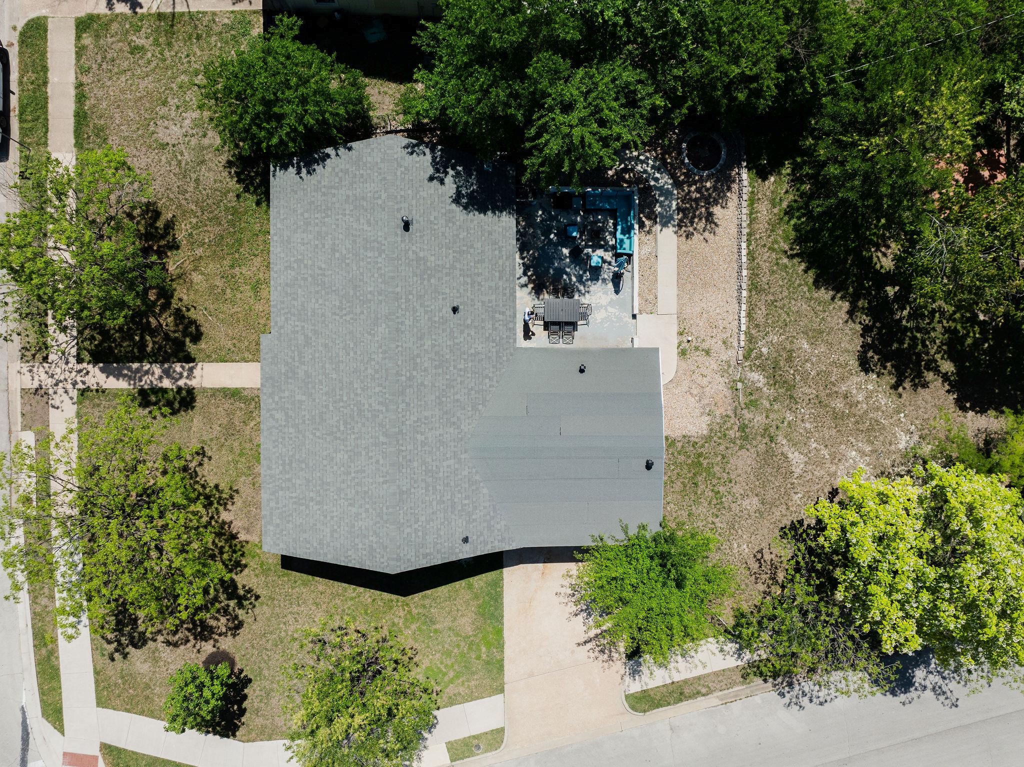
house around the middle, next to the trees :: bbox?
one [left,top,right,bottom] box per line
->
[261,133,666,574]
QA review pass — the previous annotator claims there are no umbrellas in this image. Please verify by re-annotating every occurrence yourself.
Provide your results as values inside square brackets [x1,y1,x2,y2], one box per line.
[611,255,634,280]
